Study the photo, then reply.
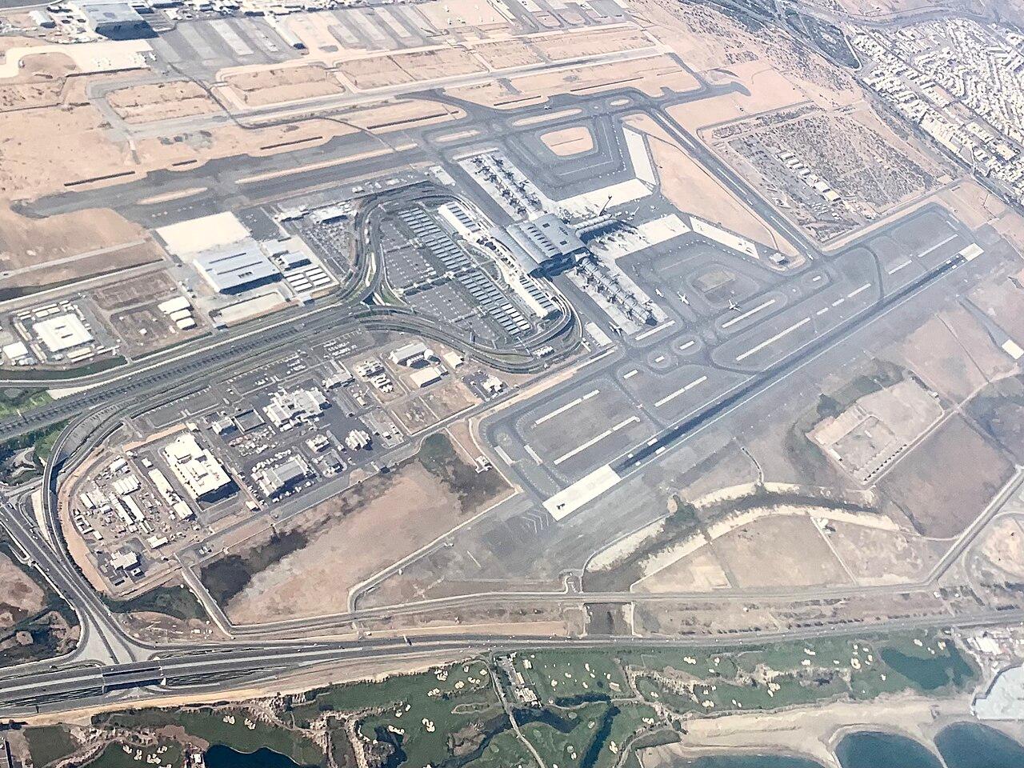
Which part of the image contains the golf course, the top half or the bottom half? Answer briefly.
bottom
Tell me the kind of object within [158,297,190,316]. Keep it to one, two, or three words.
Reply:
shed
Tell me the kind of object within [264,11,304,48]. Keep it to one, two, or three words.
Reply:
building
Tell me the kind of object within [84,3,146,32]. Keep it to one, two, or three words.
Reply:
hangar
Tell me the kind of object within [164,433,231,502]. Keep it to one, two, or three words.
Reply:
building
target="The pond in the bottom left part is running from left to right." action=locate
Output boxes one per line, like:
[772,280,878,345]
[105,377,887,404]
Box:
[197,744,309,768]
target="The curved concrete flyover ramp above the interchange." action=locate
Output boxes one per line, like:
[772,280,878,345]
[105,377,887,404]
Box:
[43,379,165,599]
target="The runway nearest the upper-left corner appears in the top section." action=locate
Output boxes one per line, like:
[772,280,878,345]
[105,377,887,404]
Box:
[240,46,672,127]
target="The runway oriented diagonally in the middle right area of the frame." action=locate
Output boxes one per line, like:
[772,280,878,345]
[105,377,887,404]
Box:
[543,242,985,521]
